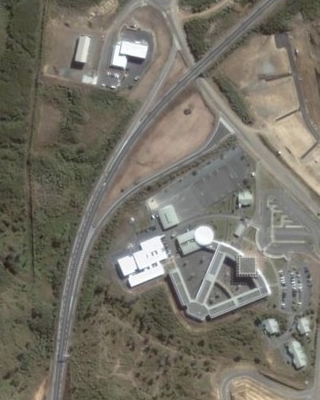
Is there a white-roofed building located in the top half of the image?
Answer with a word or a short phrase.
Yes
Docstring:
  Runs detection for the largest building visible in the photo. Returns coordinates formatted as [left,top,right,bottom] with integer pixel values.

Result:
[168,238,272,320]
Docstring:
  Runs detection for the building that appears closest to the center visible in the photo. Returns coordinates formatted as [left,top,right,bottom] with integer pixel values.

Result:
[158,205,180,230]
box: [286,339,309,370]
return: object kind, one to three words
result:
house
